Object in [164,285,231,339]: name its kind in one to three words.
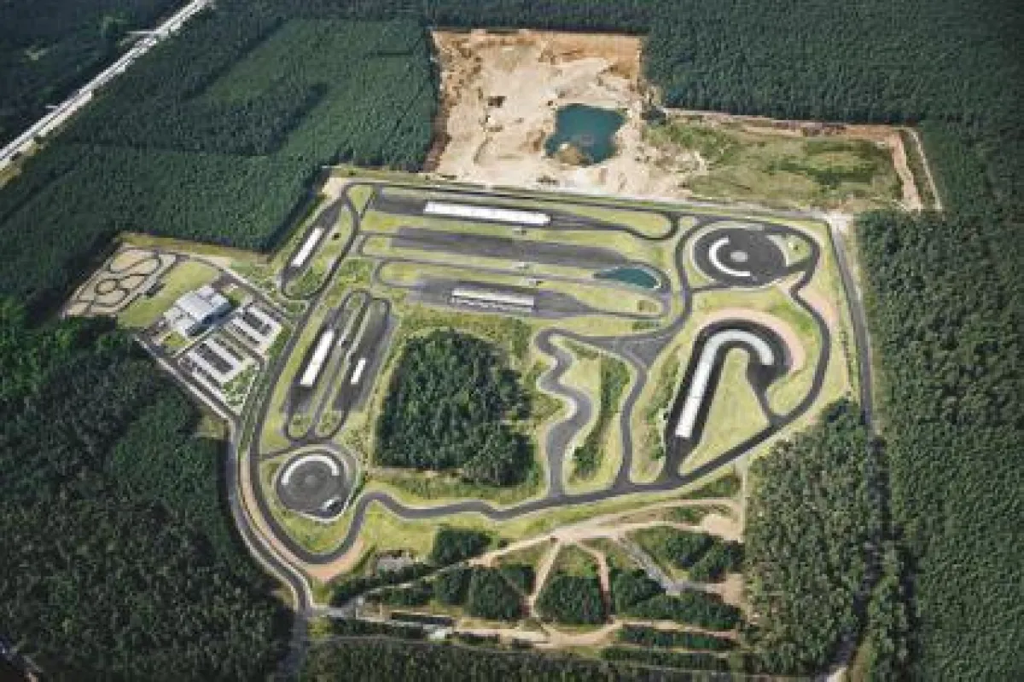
building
